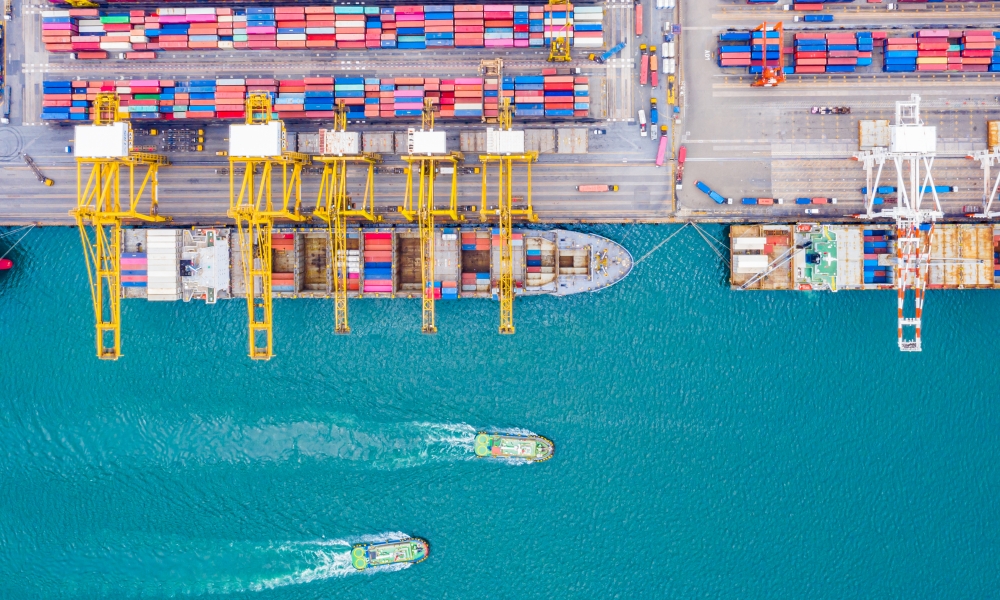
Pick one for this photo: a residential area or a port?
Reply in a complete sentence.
The picture captures a port.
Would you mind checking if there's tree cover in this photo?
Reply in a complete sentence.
No, no tree cover is visible.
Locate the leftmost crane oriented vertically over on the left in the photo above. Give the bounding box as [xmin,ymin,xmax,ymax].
[71,93,176,361]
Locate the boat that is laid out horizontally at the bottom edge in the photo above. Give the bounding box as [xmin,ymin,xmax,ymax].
[350,539,431,572]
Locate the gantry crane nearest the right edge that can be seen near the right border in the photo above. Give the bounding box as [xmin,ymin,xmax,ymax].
[964,148,1000,215]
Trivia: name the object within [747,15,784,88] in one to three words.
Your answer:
container crane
